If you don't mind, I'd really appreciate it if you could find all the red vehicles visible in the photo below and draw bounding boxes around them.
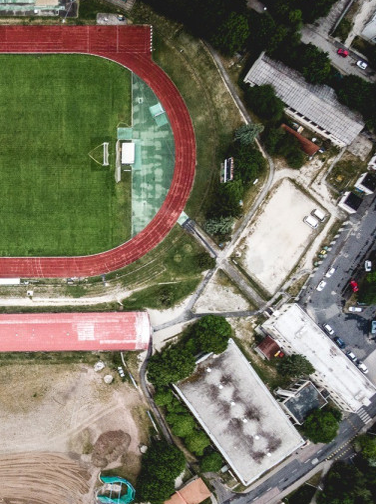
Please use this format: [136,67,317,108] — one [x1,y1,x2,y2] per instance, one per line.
[350,281,358,292]
[336,48,349,57]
